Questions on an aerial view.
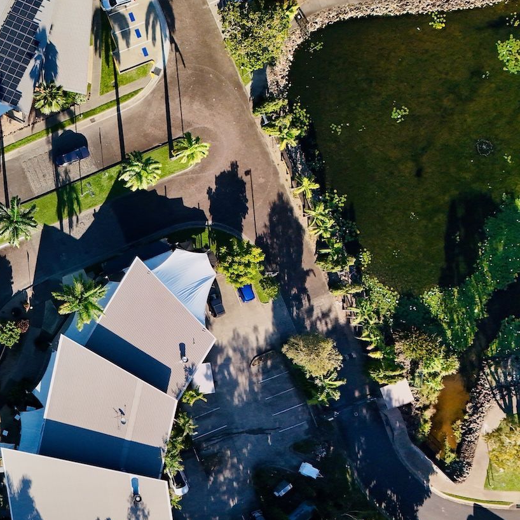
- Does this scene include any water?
Yes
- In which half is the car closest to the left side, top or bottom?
top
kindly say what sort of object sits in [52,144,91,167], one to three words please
car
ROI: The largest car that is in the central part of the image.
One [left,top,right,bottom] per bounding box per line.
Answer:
[208,279,227,318]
